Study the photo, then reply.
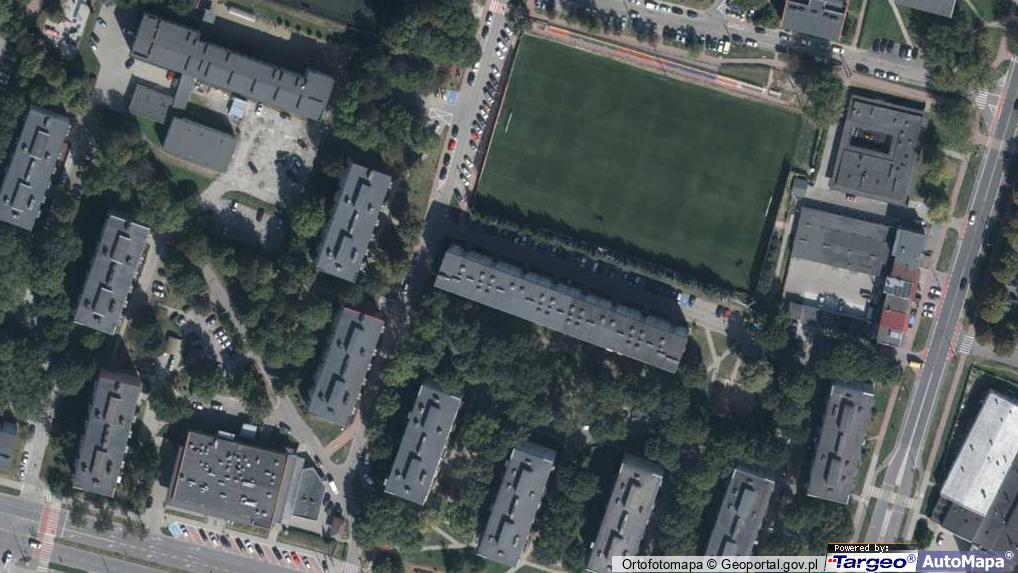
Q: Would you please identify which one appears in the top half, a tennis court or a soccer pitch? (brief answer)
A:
soccer pitch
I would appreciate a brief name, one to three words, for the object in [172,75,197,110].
shed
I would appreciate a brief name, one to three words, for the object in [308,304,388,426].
building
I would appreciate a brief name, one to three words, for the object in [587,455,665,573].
building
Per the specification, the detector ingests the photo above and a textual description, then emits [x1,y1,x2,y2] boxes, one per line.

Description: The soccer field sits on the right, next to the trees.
[472,34,803,290]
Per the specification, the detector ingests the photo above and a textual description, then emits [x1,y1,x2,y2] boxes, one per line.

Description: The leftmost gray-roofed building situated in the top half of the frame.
[0,105,80,232]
